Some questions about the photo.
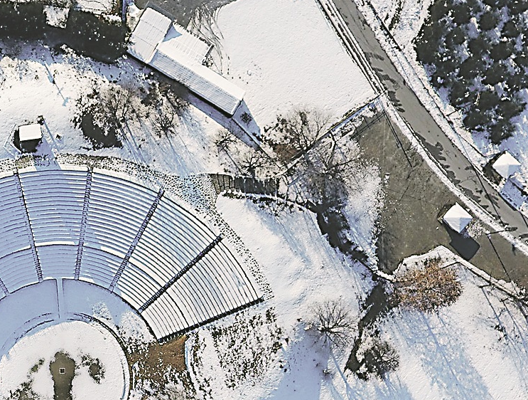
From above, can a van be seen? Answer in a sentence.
No, the frame has no van in it.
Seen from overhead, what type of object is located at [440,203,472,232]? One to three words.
shed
